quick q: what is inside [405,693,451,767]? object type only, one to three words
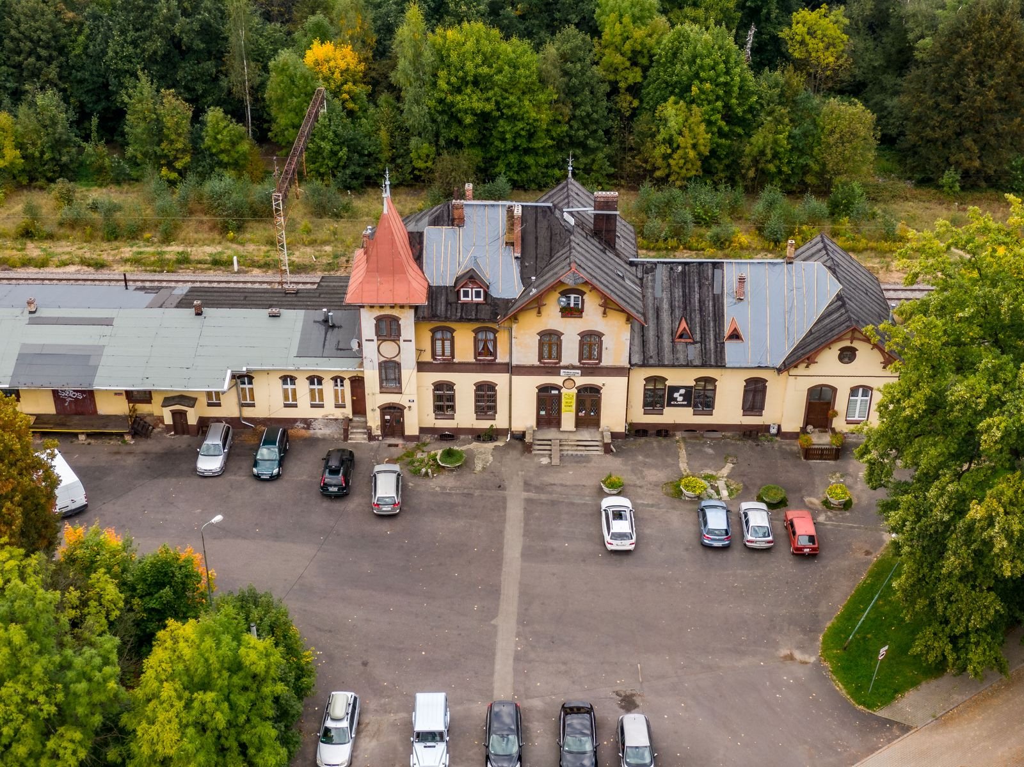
car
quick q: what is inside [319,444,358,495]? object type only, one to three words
car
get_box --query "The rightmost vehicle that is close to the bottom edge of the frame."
[614,716,658,767]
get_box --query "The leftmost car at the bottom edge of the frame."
[316,692,364,767]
